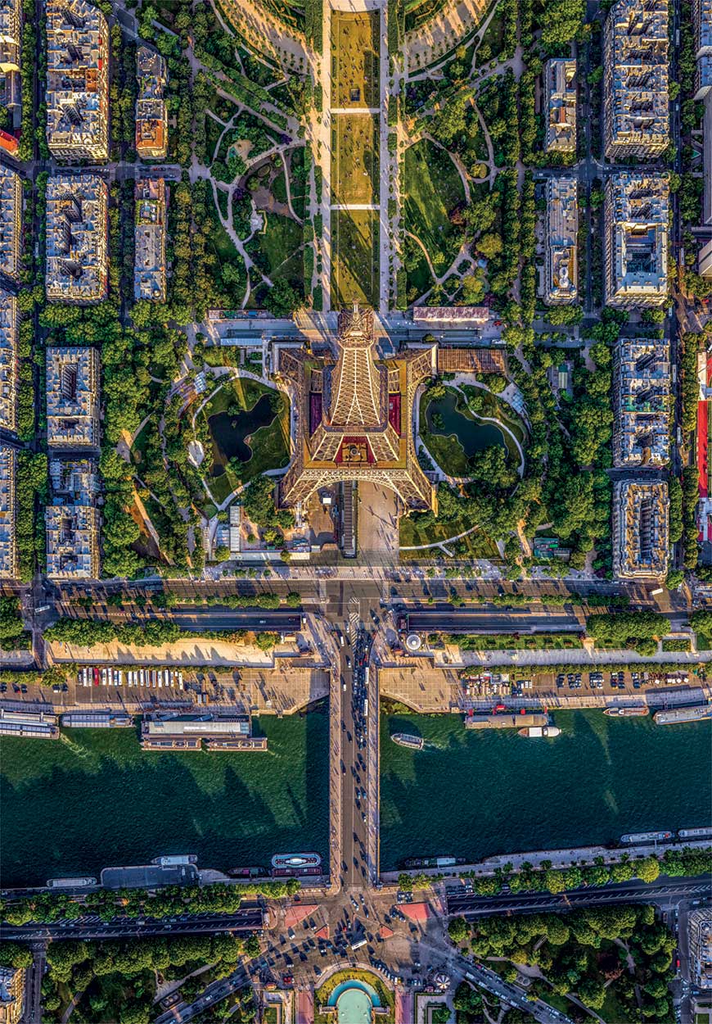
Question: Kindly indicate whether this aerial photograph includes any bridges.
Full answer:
Yes, the image includes a bridge.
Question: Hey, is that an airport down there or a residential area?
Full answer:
This image shows a residential area.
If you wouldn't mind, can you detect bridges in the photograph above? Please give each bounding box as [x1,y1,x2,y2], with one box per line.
[328,664,381,891]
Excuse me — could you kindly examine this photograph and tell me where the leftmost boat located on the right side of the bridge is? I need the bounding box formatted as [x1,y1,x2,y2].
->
[391,733,424,751]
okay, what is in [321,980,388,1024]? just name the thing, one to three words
fountain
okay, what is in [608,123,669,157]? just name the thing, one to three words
house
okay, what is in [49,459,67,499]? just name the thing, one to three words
building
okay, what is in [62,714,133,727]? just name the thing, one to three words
boat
